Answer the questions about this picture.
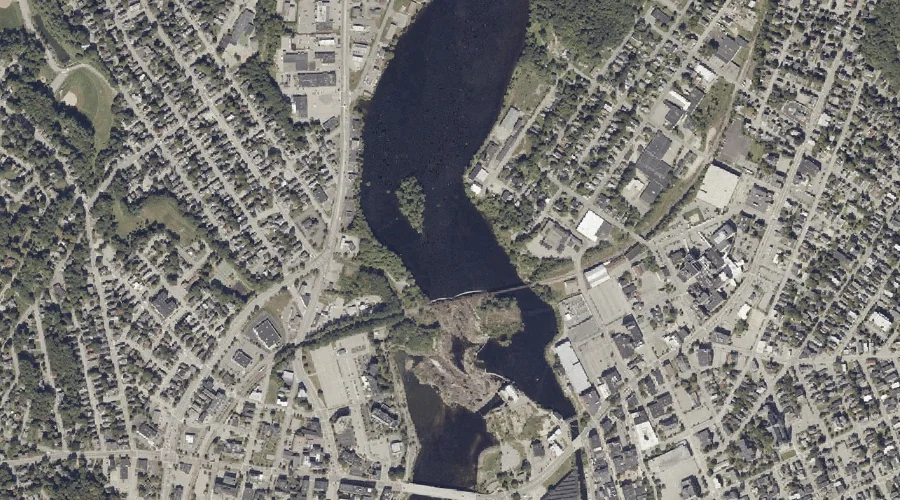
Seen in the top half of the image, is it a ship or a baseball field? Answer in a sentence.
What appears in the top half of the image is a baseball field.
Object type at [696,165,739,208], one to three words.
building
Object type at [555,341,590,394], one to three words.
building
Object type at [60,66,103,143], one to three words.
baseball field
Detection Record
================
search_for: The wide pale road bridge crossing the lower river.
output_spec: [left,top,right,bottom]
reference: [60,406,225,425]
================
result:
[405,479,477,499]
